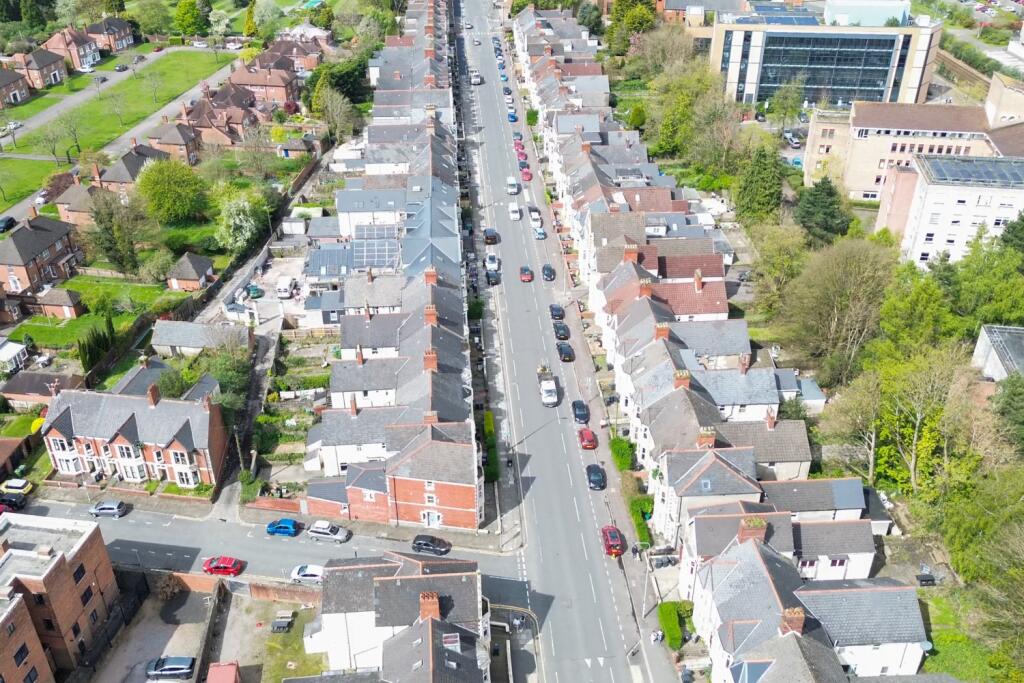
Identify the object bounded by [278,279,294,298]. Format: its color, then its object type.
white vehicle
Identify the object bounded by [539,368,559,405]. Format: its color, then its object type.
white vehicle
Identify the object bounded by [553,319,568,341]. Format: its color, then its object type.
gray car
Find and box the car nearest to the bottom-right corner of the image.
[600,526,623,557]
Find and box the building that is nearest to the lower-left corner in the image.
[0,508,118,683]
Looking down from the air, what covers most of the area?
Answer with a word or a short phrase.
buildings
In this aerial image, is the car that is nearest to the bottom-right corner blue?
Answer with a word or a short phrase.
No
